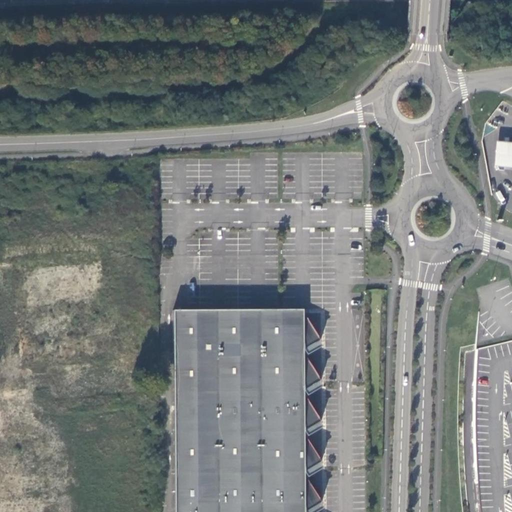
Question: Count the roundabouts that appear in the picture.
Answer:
2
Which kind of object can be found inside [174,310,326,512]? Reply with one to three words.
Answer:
building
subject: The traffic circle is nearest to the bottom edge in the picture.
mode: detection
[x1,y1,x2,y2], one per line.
[400,186,466,252]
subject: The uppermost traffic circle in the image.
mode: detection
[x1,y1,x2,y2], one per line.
[380,69,446,135]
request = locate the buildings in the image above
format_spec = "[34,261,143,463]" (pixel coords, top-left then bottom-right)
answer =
[496,140,512,171]
[174,310,326,512]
